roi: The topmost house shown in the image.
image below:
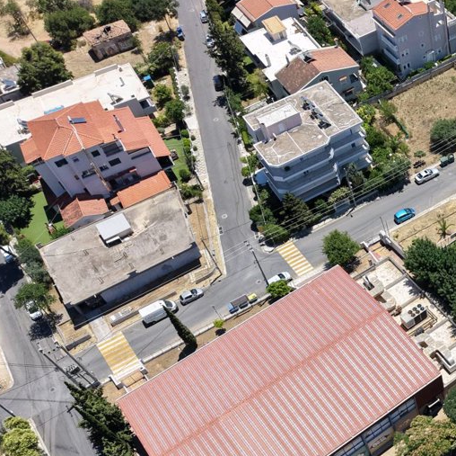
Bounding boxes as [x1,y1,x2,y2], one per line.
[227,0,305,33]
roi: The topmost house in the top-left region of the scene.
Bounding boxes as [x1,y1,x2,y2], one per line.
[83,21,132,57]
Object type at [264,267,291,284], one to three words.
car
